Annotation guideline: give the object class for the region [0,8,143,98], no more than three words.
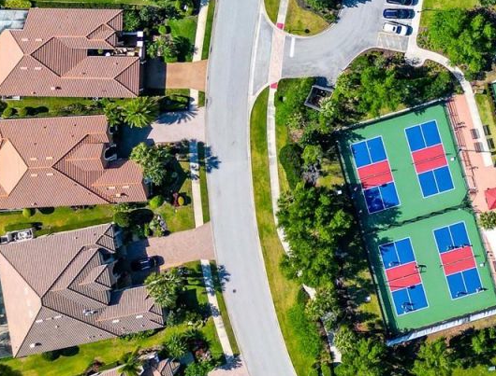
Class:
house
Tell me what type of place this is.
residential area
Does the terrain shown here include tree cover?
Yes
